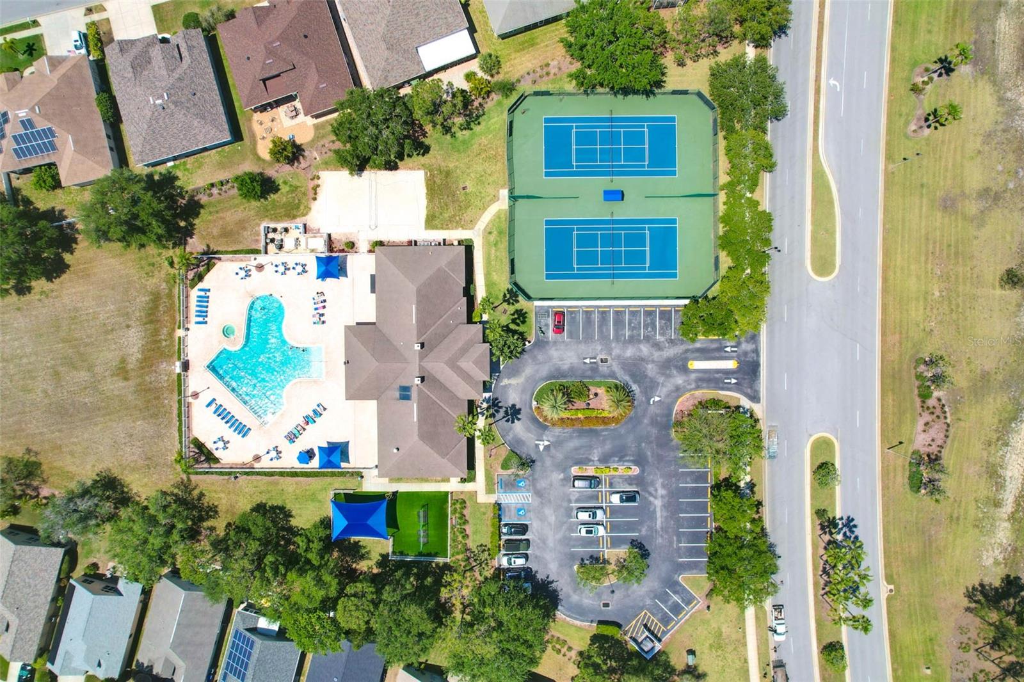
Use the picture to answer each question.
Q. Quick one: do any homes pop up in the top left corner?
Yes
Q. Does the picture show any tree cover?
Yes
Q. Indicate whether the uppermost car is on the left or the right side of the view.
left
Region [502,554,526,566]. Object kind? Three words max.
vehicle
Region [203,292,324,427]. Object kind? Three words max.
swimming pool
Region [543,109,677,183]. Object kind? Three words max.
tennis court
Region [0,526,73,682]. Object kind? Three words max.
house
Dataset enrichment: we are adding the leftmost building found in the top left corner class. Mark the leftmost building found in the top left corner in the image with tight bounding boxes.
[0,56,120,182]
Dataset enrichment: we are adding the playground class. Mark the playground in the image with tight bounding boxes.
[333,491,450,561]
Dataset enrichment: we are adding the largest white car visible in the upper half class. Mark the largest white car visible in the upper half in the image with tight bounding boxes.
[68,29,89,58]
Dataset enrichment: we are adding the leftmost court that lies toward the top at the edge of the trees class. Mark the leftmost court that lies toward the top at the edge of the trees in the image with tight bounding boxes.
[307,170,426,237]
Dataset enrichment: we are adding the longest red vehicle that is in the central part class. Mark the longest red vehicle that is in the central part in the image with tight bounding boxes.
[553,310,565,335]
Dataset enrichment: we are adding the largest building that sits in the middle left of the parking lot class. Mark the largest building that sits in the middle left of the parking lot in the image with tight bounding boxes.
[344,246,490,478]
